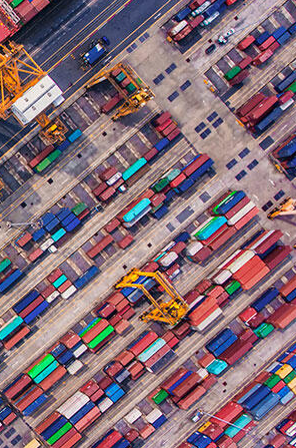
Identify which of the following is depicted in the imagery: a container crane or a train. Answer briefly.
container crane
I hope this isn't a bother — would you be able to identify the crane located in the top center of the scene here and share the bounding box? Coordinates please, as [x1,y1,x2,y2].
[85,58,156,120]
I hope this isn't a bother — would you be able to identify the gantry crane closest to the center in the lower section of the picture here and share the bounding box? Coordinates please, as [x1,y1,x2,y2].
[114,269,191,327]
